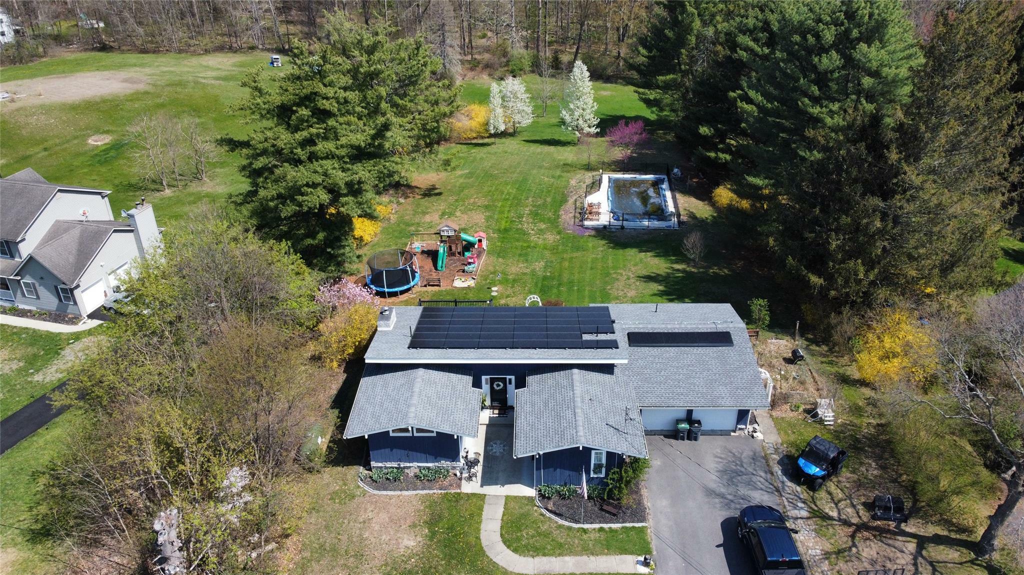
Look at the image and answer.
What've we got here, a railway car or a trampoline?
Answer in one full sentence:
I can see a trampoline in this picture.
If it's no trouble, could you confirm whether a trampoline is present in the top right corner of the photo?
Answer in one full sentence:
No, no trampoline is visible in the top right corner of the photo.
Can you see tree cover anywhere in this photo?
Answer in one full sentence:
Yes, tree cover can be seen from above here.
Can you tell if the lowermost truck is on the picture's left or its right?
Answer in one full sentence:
It is on the right.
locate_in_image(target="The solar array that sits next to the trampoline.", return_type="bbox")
[408,306,618,350]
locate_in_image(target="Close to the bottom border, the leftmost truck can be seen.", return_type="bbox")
[734,505,805,575]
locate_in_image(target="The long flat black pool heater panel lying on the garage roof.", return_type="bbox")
[626,329,736,347]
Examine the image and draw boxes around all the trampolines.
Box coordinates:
[360,247,420,304]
